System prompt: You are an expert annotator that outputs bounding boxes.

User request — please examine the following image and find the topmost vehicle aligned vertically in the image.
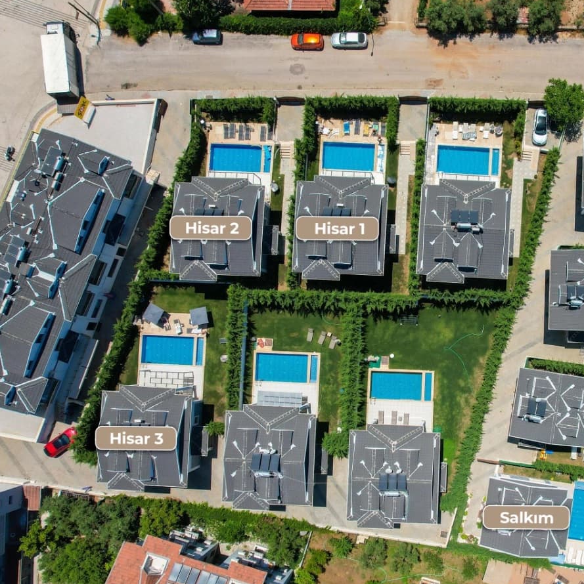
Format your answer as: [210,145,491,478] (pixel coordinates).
[41,20,83,102]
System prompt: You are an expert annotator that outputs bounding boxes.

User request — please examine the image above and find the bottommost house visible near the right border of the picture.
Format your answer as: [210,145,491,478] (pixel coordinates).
[477,464,575,566]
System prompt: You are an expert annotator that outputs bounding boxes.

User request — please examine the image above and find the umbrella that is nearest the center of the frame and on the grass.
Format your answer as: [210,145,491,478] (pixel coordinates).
[188,306,221,327]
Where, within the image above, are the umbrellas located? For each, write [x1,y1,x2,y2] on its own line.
[140,301,176,327]
[188,306,221,327]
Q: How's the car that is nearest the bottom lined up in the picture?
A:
at an angle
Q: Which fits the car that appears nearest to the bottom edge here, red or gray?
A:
red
